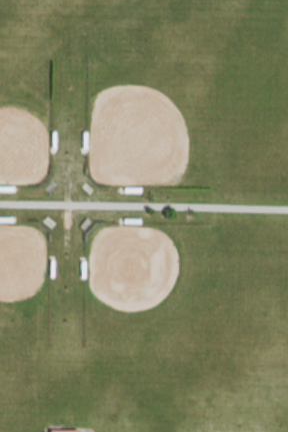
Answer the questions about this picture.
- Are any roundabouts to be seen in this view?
No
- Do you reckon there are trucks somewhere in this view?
No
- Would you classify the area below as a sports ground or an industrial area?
sports ground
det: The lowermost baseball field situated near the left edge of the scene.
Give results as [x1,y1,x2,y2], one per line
[0,222,51,345]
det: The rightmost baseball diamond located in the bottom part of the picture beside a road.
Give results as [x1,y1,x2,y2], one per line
[86,224,208,346]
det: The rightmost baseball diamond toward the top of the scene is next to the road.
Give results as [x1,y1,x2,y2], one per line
[86,66,209,188]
